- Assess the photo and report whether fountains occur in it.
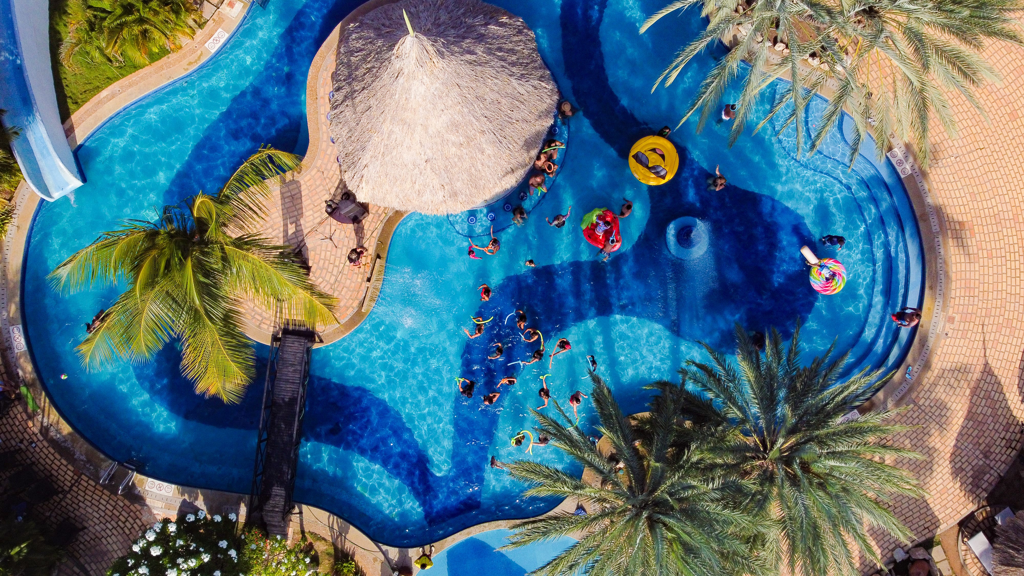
Yes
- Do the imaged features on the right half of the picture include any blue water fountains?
Yes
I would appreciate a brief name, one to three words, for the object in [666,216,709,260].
fountain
